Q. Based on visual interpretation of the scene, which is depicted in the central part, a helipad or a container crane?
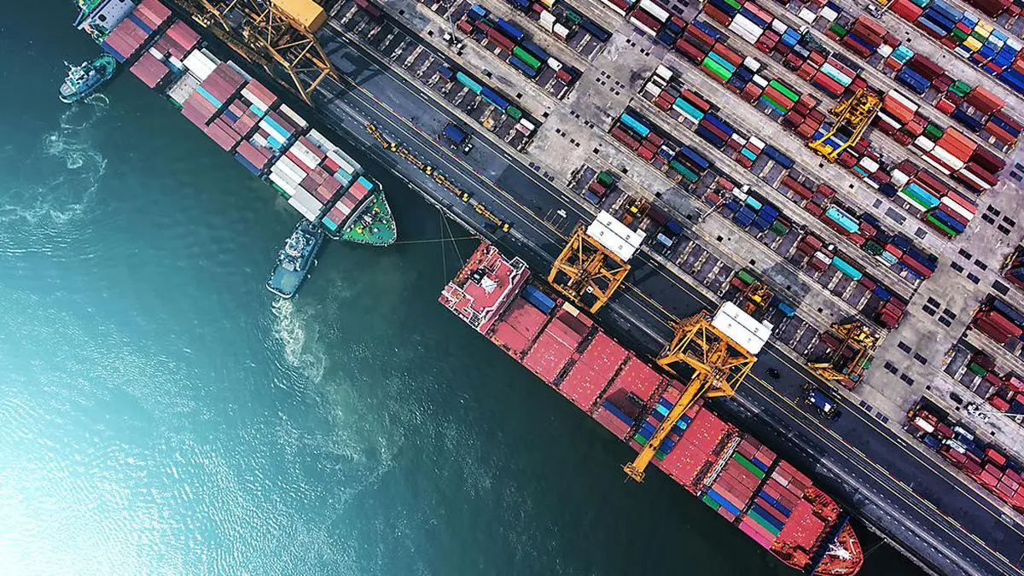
container crane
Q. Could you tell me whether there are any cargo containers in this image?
Yes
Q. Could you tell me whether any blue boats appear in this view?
Yes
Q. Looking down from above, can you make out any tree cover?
No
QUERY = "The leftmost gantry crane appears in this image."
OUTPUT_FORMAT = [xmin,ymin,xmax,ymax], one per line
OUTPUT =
[183,0,274,63]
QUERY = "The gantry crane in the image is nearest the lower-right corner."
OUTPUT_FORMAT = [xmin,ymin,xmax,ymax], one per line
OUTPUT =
[805,320,886,384]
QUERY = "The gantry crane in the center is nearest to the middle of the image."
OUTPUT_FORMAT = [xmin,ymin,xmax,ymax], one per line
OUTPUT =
[541,191,656,320]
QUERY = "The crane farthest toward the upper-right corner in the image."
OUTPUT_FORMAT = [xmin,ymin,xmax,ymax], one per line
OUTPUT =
[804,87,884,166]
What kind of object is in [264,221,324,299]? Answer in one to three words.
boat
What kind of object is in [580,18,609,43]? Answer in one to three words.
shipping container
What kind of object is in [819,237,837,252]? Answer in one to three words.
vehicle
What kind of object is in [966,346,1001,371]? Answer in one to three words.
shipping container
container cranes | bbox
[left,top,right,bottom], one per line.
[805,320,886,384]
[804,87,884,166]
[183,0,274,63]
[230,0,343,112]
[541,191,656,320]
[621,280,782,485]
